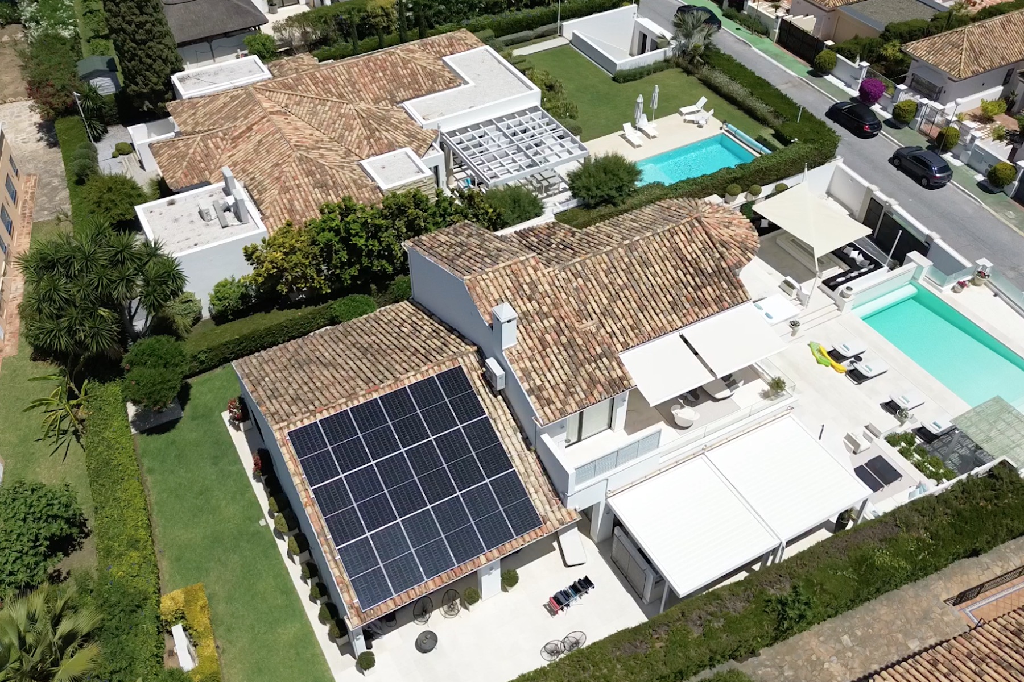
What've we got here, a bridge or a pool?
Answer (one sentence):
Looking from above, you can make out a pool.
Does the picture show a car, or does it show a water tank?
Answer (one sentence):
There is a car in the scene.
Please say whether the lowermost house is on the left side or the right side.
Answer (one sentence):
The lowermost house is on the right side of the image.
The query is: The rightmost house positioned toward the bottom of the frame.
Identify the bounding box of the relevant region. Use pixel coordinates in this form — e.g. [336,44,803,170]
[873,585,1024,682]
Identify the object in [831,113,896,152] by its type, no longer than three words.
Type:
car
